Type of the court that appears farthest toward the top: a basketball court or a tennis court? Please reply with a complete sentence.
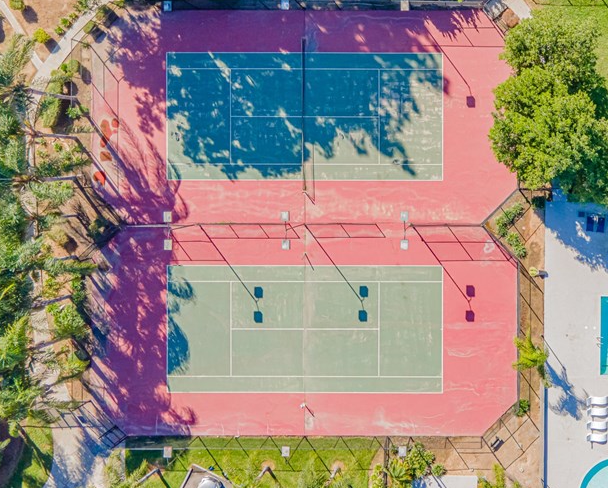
Specifically, the court that appears farthest toward the top is a tennis court.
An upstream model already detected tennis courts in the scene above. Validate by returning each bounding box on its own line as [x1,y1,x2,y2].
[89,224,518,436]
[91,10,519,225]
